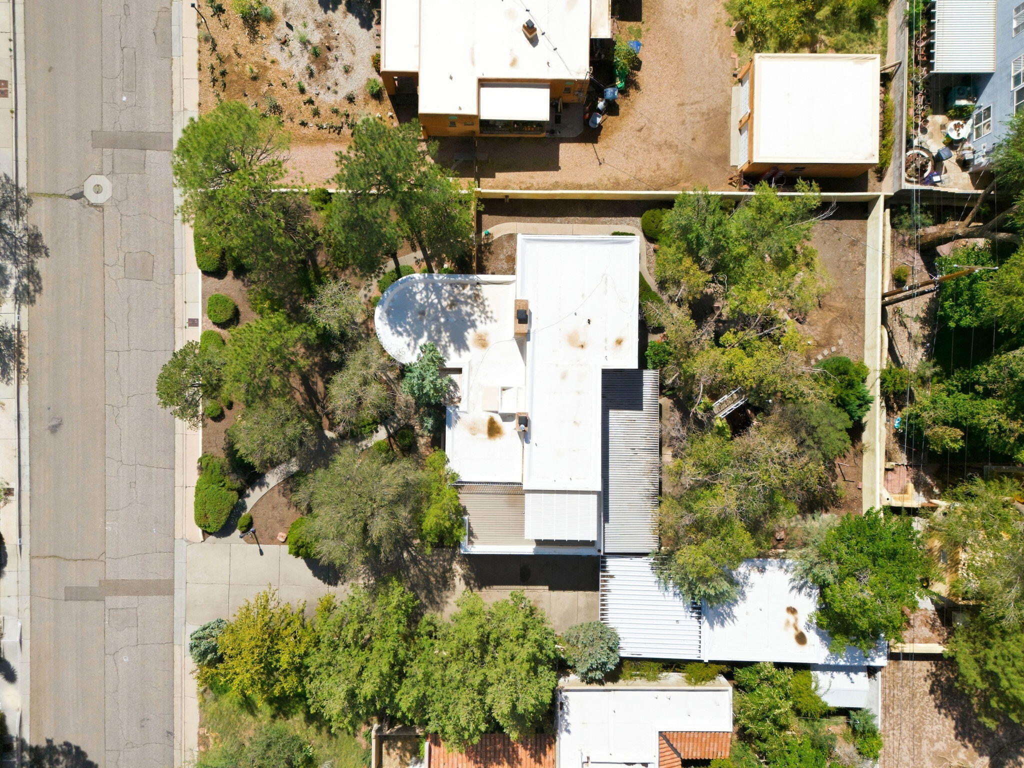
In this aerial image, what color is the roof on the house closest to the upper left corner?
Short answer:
white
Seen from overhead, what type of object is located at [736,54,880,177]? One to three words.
building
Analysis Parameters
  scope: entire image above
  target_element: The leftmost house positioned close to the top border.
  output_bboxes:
[381,0,611,141]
